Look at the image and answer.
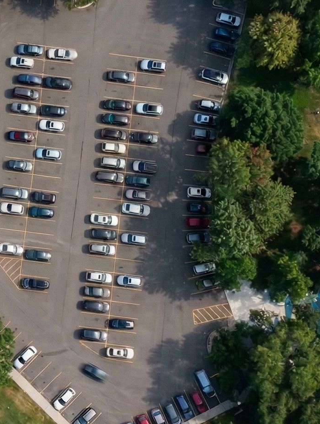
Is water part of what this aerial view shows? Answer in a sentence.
No, water can't be seen anywhere here.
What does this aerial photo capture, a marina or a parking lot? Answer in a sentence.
What you see here is a parking lot.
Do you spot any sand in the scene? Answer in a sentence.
No, there's no sand in this view.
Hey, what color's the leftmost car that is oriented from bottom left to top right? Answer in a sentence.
The color of the leftmost car that is oriented from bottom left to top right is white.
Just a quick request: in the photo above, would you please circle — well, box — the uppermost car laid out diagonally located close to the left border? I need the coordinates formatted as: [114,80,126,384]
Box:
[14,345,36,369]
